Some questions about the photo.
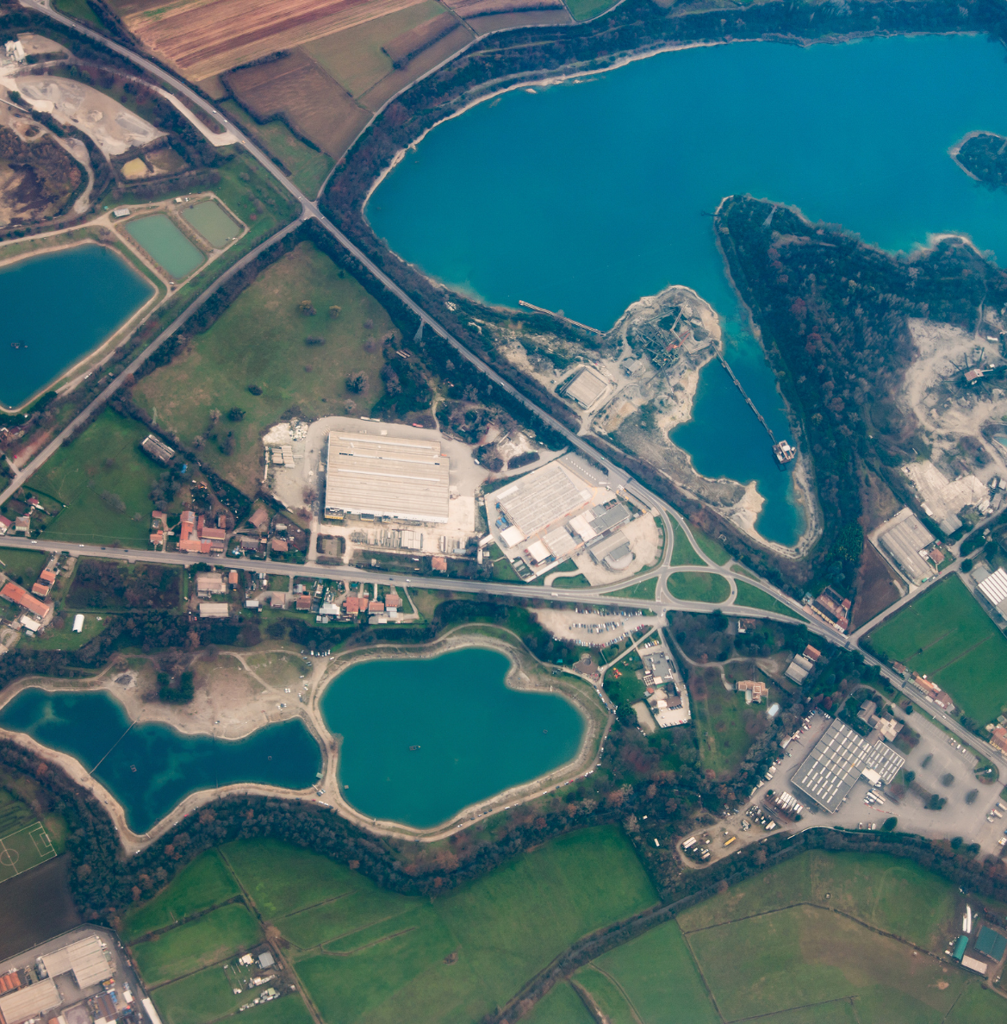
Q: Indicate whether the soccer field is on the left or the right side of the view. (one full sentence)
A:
The soccer field sits on the left side.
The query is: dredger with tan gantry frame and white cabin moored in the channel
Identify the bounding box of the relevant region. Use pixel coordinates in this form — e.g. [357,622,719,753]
[771,440,796,471]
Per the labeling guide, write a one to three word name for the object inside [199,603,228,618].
shed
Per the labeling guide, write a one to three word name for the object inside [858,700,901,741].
house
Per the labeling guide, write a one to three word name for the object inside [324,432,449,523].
building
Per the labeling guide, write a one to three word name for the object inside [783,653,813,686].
barn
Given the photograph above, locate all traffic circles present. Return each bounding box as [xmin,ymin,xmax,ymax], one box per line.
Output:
[656,566,737,609]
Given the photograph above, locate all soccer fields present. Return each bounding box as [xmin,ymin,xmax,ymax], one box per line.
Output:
[0,817,59,885]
